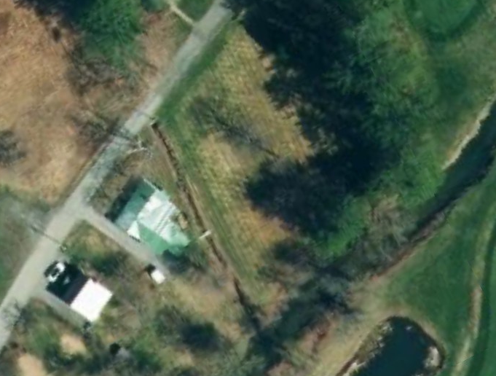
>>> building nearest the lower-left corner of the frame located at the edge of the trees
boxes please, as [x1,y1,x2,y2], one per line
[56,270,110,322]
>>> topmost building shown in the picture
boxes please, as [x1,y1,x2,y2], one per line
[113,180,189,255]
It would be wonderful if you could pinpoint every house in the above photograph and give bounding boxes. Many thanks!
[113,180,189,255]
[56,270,110,322]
